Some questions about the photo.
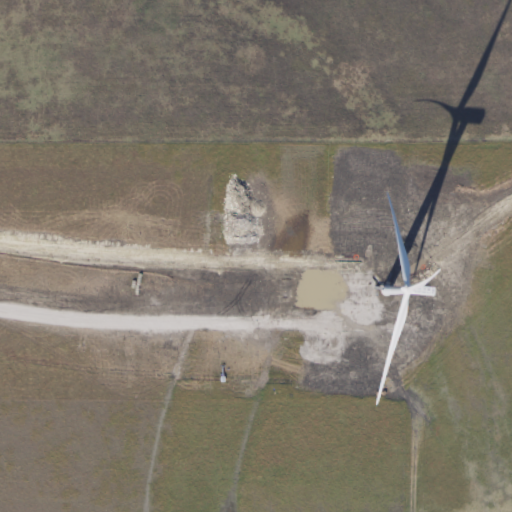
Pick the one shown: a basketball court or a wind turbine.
wind turbine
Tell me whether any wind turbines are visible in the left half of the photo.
No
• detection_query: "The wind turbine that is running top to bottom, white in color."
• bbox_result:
[377,188,440,403]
